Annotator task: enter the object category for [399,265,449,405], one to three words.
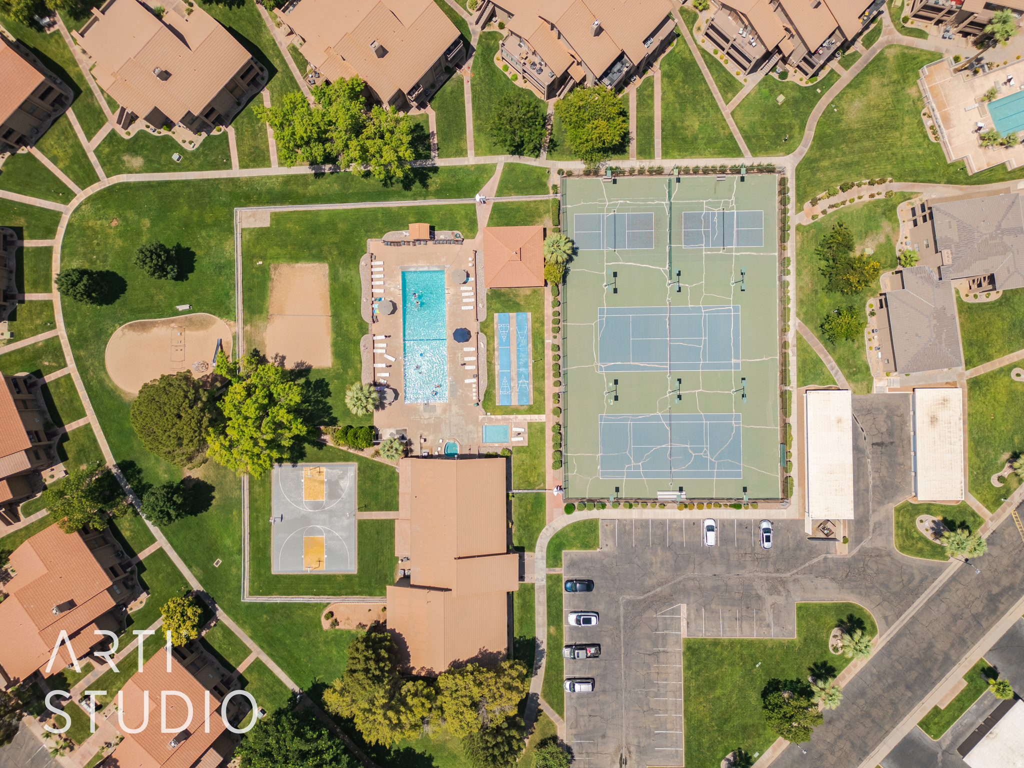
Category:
swimming pool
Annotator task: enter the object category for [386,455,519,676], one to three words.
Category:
building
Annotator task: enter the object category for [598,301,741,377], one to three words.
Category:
tennis court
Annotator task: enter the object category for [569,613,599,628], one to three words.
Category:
car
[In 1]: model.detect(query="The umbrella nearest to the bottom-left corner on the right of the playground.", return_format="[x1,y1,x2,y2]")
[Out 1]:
[380,388,396,404]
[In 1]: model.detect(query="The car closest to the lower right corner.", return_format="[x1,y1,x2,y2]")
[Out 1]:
[760,521,775,550]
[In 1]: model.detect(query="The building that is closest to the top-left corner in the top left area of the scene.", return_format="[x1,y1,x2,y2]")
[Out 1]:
[0,38,70,161]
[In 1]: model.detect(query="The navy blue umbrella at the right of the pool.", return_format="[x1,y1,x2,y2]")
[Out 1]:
[452,327,469,344]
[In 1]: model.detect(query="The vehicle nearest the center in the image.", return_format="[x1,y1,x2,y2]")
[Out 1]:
[565,581,594,595]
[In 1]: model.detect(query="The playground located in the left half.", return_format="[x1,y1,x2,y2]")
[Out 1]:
[104,312,234,396]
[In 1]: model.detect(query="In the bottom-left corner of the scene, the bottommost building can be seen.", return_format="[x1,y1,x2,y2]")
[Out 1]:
[100,640,239,768]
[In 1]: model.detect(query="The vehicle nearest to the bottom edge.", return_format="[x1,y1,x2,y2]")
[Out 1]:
[565,680,595,696]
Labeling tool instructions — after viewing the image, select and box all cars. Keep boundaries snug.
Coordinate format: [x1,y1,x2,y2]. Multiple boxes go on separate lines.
[565,581,594,595]
[760,521,775,550]
[569,613,599,628]
[704,519,718,547]
[565,680,595,696]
